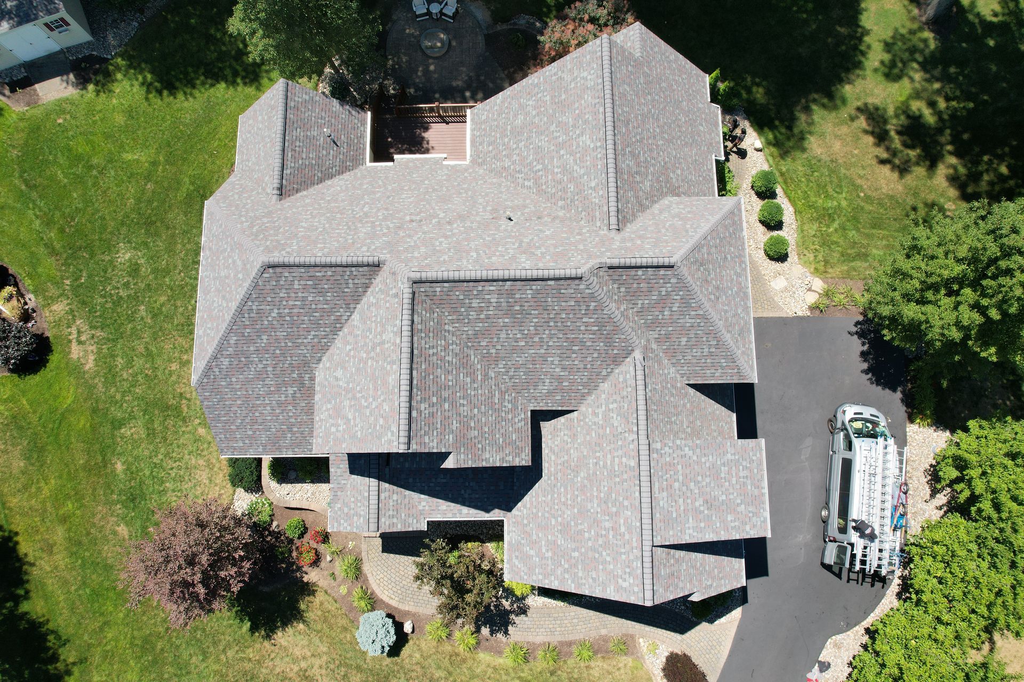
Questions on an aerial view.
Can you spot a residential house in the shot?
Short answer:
Yes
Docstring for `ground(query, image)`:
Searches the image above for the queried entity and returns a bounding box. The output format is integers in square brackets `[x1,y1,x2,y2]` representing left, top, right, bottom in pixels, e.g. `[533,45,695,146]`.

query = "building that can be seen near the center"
[191,20,774,606]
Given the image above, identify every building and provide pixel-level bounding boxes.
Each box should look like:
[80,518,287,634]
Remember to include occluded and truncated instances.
[0,0,95,71]
[191,20,774,606]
